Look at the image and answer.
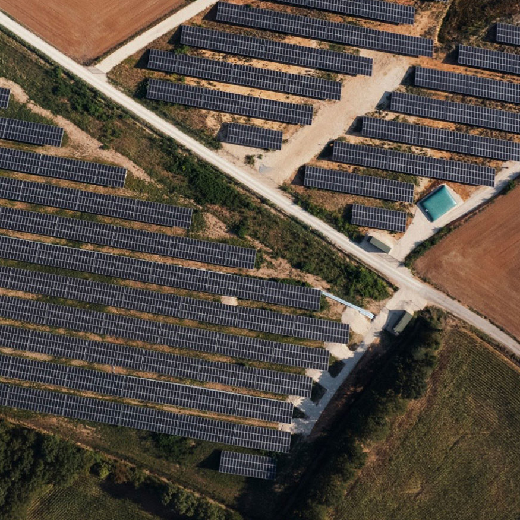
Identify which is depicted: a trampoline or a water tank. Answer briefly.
water tank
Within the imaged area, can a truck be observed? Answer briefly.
No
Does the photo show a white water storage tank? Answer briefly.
No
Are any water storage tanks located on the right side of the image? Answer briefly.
Yes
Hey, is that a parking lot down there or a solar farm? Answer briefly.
solar farm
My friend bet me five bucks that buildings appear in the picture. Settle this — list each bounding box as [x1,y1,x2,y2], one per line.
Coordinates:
[367,237,391,253]
[392,310,412,333]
